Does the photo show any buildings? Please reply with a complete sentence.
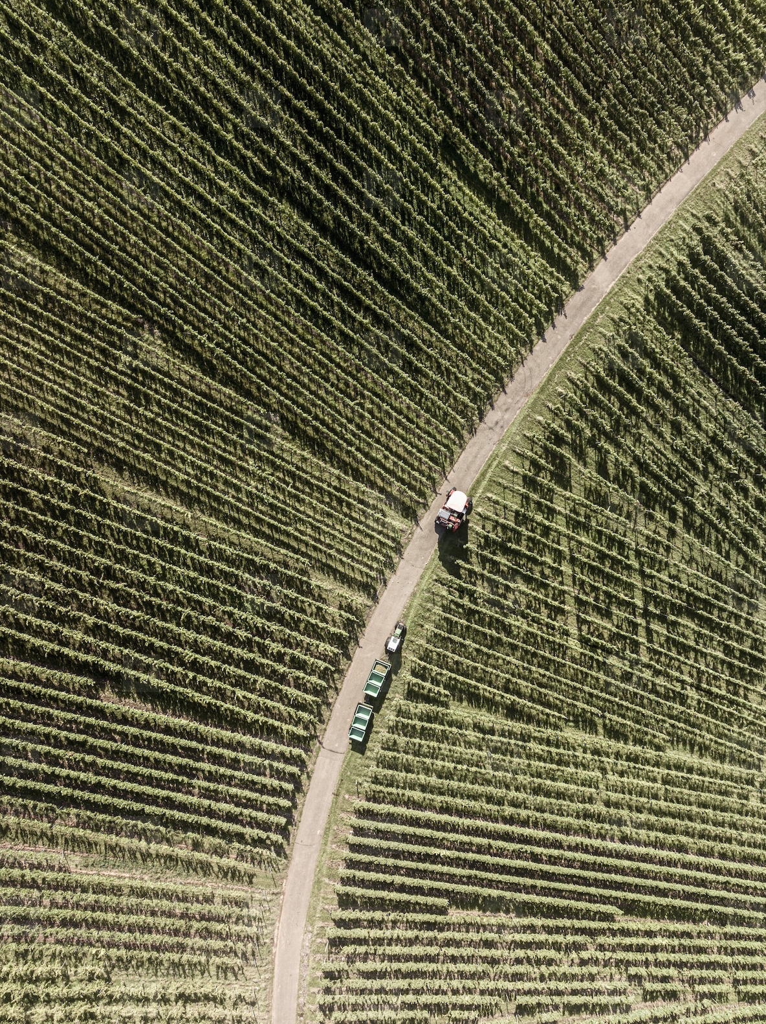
No, the frame has no building in it.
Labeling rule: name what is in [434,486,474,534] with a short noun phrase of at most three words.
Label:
work vehicle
